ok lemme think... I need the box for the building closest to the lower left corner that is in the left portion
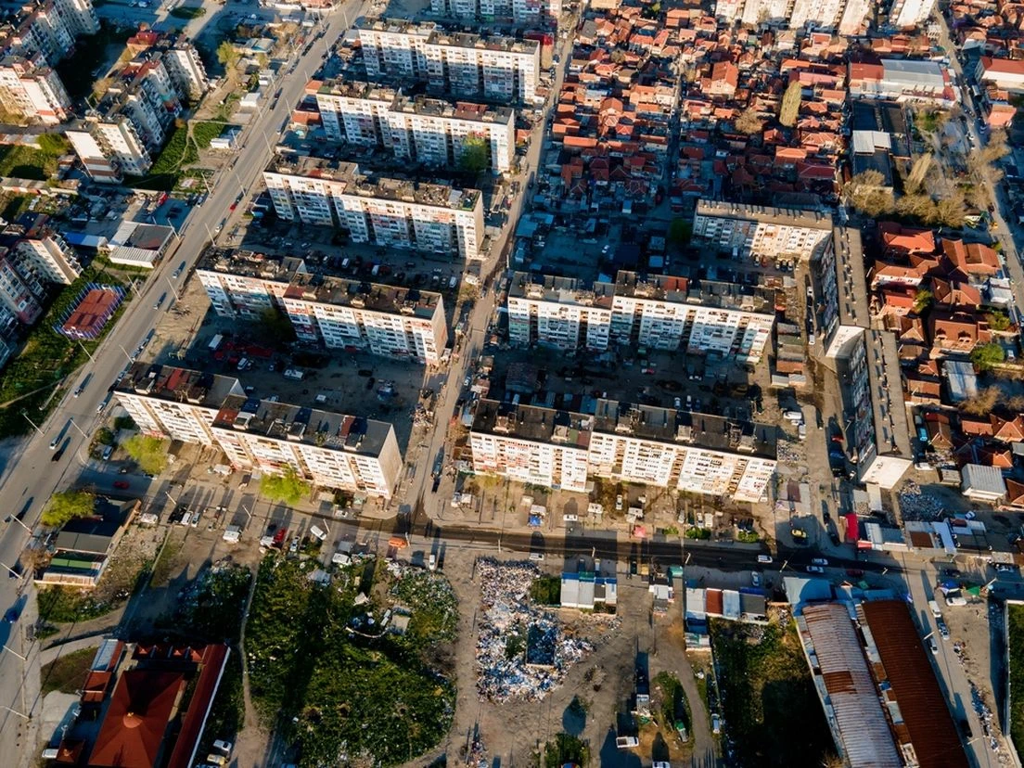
[49,732,97,768]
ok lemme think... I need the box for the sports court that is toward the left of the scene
[60,287,121,337]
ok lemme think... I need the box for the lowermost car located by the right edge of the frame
[959,717,975,739]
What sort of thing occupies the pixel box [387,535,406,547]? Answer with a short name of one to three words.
vehicle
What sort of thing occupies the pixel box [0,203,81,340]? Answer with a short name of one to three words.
building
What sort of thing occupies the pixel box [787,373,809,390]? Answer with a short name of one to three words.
shed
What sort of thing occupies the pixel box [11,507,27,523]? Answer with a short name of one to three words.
car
